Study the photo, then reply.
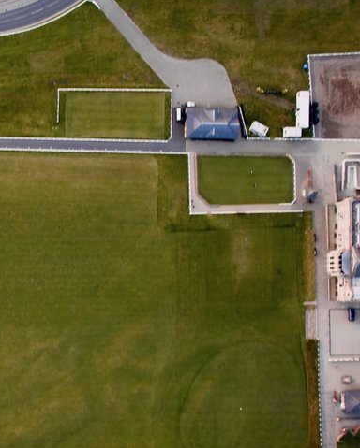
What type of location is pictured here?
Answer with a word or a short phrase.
golf course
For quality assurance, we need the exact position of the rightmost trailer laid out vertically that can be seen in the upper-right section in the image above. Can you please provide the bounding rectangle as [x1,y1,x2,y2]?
[290,90,310,131]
